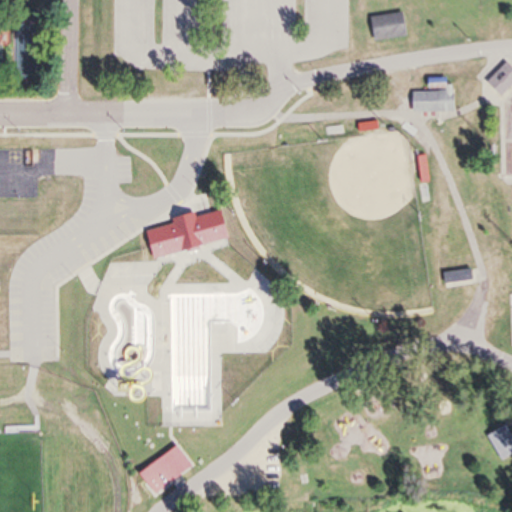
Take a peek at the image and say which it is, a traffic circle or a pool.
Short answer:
pool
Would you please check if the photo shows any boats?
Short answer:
No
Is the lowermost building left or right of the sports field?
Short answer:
to its right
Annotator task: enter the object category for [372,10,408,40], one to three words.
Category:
house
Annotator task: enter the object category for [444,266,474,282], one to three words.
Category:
shed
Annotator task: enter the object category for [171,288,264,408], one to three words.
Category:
swimming pool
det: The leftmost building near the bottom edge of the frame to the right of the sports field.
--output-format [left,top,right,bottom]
[140,447,191,495]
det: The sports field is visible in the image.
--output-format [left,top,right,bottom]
[0,434,42,512]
